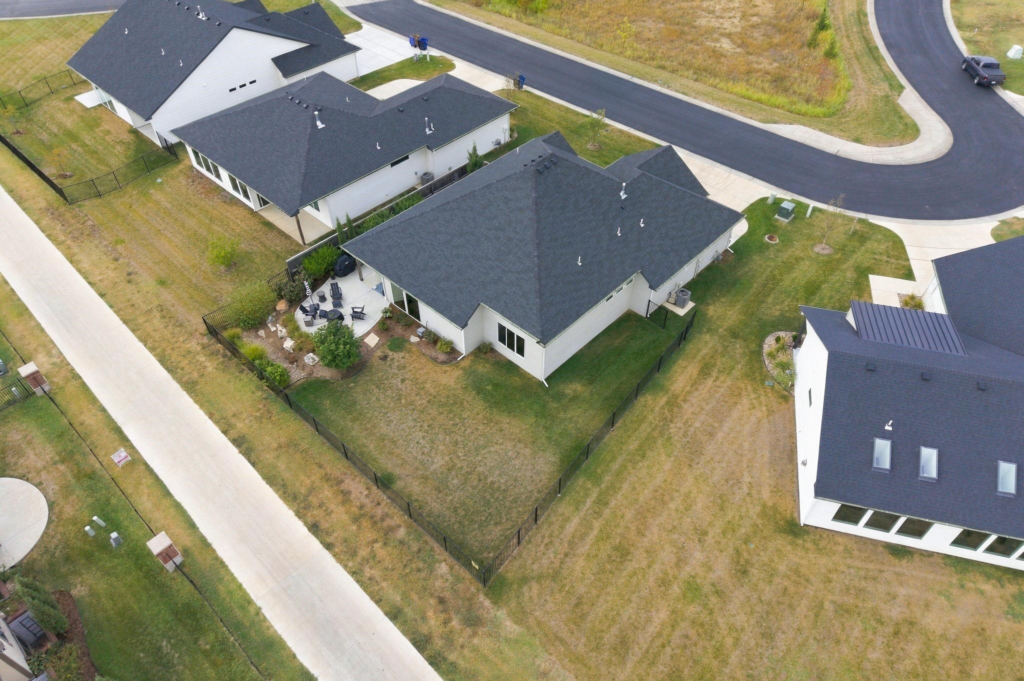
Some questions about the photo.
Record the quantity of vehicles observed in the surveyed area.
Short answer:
1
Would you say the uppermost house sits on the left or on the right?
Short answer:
left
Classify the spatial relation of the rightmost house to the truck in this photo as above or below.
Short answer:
below it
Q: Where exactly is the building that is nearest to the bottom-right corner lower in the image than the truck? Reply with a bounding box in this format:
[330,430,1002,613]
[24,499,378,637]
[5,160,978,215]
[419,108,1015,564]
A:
[794,245,1024,567]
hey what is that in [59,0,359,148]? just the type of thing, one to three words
house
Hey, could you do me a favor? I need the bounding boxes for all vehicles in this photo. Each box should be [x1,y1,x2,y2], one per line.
[962,55,1006,85]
